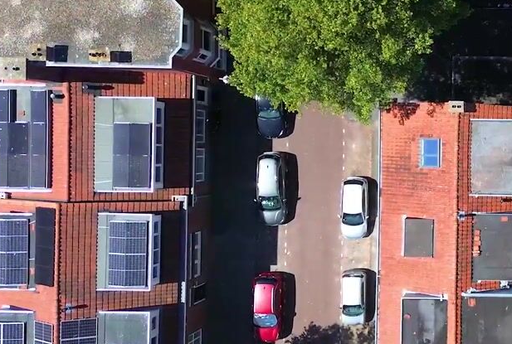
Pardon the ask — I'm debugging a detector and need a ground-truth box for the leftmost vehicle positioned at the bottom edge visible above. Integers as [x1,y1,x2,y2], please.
[249,273,284,340]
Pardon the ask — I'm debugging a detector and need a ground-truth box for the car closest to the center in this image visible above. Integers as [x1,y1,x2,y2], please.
[252,153,286,223]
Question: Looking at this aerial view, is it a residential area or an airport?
residential area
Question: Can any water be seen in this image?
No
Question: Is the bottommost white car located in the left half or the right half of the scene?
right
